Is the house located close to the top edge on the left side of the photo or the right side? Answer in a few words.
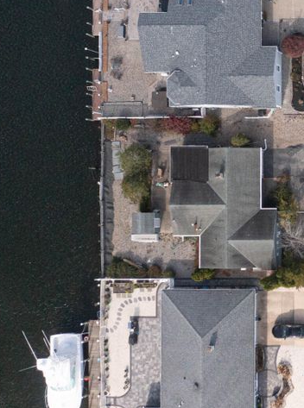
right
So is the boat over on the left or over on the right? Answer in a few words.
left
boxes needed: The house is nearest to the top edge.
[138,0,283,109]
